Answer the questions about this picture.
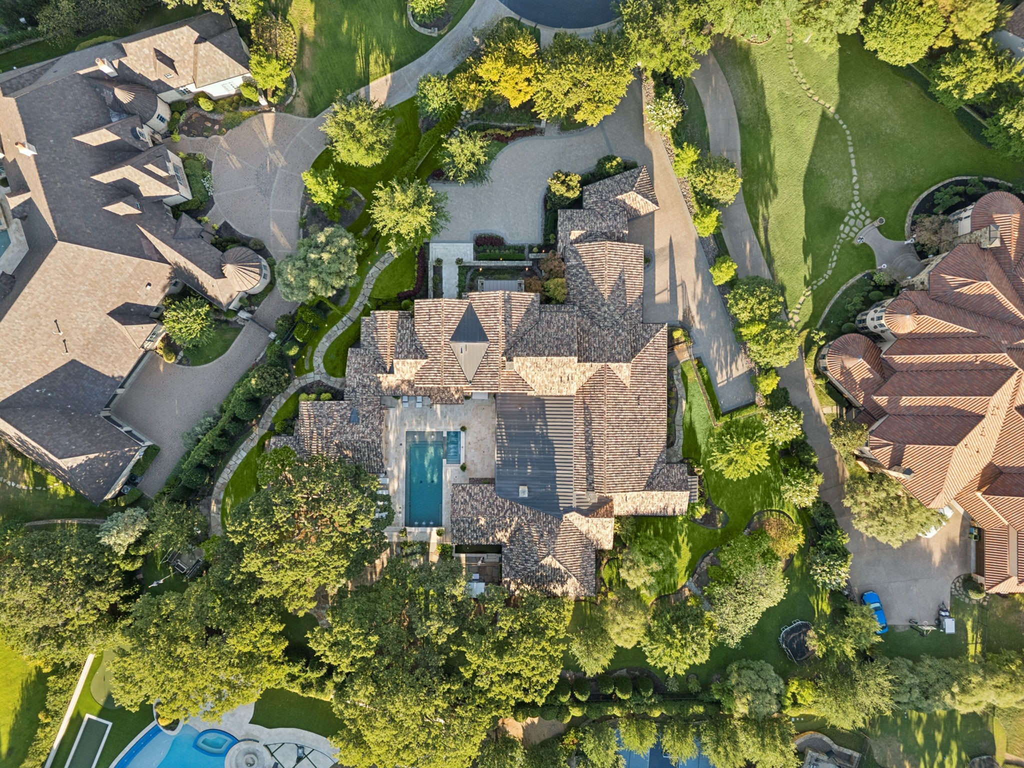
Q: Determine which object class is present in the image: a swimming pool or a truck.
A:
swimming pool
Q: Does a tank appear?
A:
No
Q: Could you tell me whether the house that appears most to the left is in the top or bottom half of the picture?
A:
top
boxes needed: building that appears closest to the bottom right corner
[816,191,1024,594]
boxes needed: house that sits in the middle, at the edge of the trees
[270,164,699,597]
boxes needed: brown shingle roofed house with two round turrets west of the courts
[0,12,271,506]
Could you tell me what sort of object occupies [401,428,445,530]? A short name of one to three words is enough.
swimming pool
